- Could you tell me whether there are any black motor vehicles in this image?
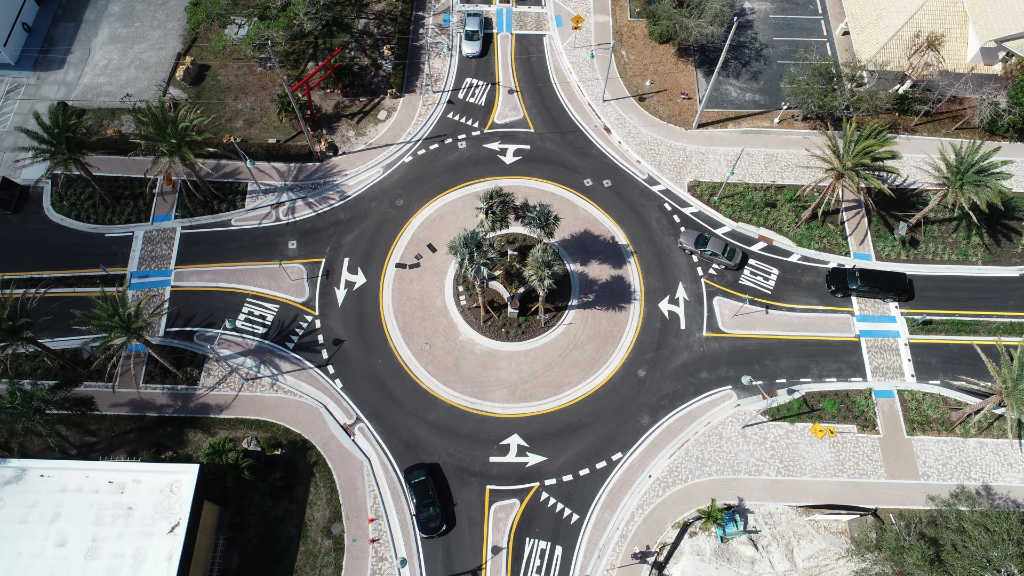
Yes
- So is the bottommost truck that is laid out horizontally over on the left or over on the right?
right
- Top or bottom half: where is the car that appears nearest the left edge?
bottom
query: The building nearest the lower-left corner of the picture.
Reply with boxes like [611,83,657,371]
[0,459,230,576]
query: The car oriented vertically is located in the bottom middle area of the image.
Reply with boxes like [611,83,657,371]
[403,465,446,541]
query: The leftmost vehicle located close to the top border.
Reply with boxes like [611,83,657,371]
[460,11,486,58]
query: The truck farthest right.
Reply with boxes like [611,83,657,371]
[824,265,908,302]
